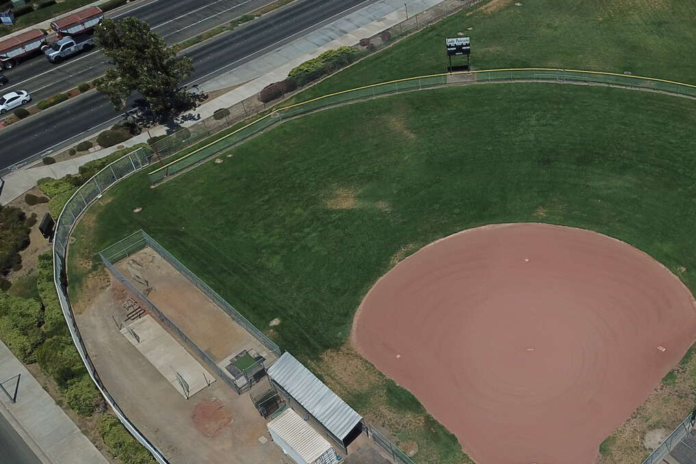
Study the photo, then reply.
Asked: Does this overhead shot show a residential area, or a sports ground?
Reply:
sports ground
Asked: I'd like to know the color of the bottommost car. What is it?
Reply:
white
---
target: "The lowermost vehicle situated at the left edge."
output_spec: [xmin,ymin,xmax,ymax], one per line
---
[0,92,33,115]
